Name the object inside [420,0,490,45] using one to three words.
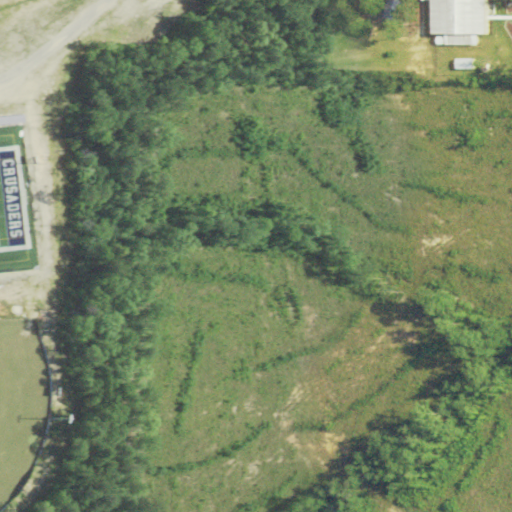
house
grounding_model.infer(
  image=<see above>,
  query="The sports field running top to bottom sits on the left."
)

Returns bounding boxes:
[0,126,38,274]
